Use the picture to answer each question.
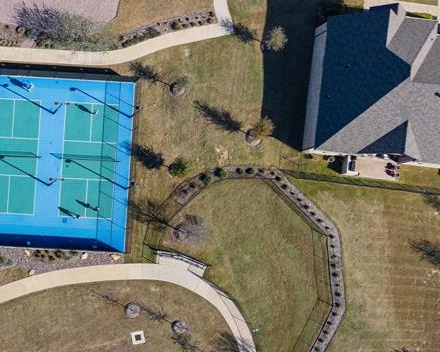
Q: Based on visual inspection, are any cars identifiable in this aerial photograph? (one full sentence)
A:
No, the photo shows no car.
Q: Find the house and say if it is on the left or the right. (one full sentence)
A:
The house is on the right side of the image.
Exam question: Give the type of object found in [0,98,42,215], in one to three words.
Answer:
sports court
